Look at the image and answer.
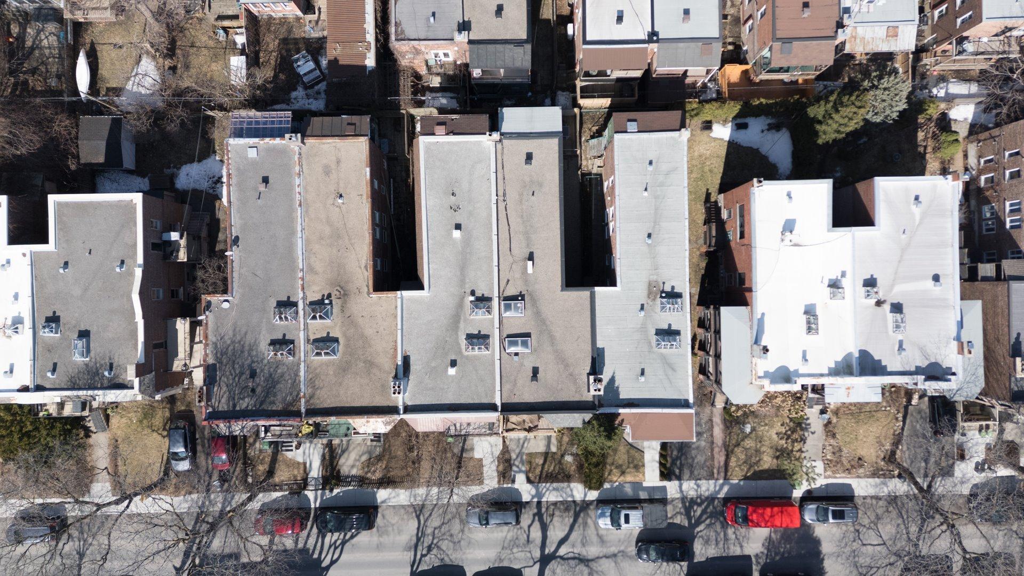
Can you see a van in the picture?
Yes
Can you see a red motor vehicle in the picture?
Yes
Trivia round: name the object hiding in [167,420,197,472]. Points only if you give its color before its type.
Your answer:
black car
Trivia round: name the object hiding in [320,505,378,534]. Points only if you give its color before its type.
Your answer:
black car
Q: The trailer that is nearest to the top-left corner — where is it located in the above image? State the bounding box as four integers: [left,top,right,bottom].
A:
[287,45,325,91]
